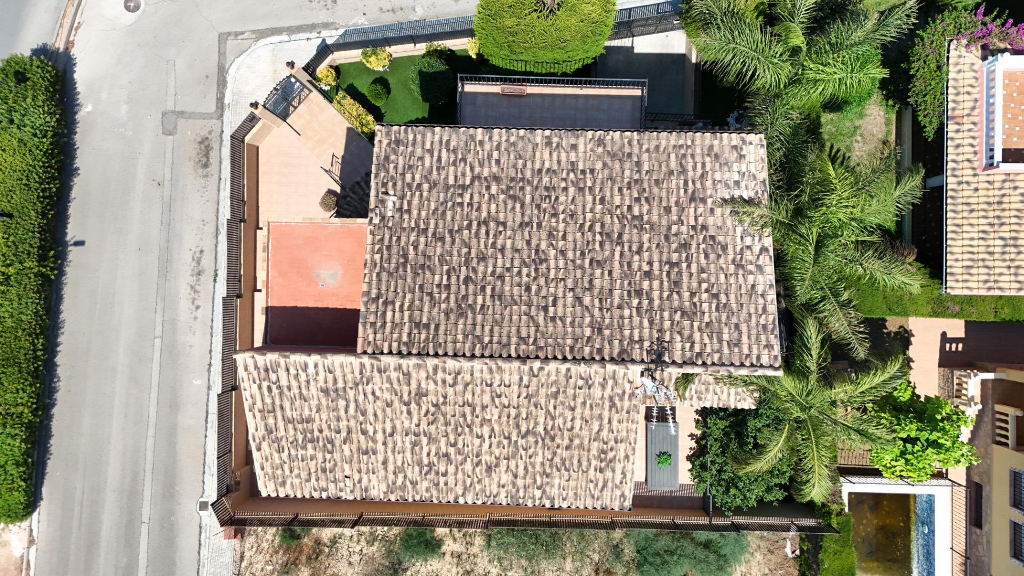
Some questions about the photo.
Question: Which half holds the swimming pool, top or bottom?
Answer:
bottom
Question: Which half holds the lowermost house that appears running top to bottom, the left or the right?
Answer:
right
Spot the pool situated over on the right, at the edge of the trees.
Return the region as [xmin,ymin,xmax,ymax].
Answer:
[841,473,953,576]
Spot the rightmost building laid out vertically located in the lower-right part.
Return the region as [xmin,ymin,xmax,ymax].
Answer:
[936,366,1024,576]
